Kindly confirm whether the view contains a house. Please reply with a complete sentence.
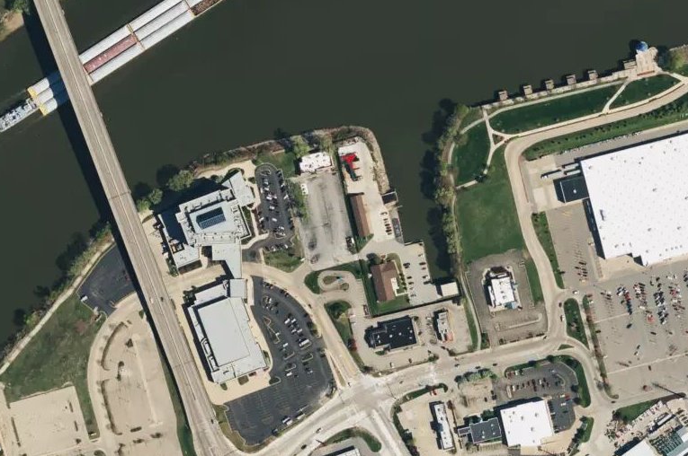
Yes, a house appears in the view.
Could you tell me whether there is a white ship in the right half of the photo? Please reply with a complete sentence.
No, I can find no white ship in the right half of the photo.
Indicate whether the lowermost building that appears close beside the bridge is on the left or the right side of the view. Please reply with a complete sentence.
The lowermost building that appears close beside the bridge is on the left side of the image.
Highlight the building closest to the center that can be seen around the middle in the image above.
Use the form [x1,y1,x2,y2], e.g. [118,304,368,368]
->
[350,193,371,238]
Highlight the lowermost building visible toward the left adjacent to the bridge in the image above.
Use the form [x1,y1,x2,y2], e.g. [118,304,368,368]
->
[188,279,267,382]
